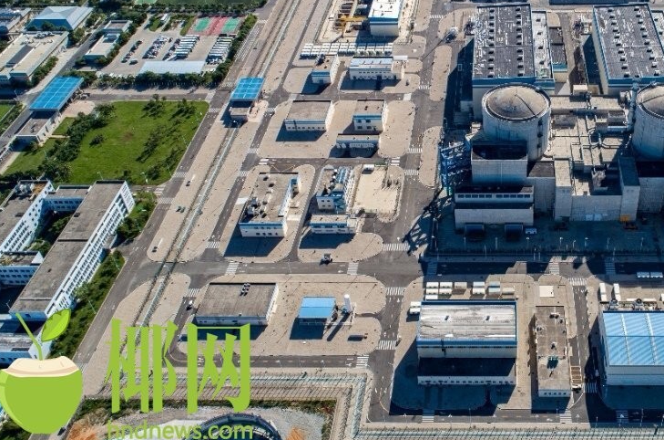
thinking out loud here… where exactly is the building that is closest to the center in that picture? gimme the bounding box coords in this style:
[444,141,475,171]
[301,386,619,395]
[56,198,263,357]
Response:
[310,215,351,233]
